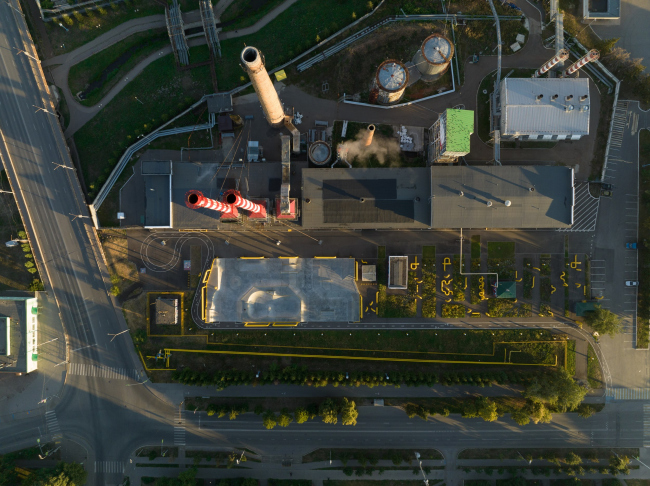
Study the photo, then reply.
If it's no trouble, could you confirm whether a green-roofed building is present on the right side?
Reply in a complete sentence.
Yes, there is a green-roofed building on the right side.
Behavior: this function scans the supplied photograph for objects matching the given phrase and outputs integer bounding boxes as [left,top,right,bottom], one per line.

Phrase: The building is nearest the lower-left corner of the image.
[0,296,41,379]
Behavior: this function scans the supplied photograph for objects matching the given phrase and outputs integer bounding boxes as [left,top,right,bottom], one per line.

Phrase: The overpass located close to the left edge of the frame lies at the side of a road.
[0,0,133,353]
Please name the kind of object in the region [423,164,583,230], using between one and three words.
building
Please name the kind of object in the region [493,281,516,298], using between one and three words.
shed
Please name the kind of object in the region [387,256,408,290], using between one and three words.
building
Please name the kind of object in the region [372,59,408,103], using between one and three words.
storage tank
